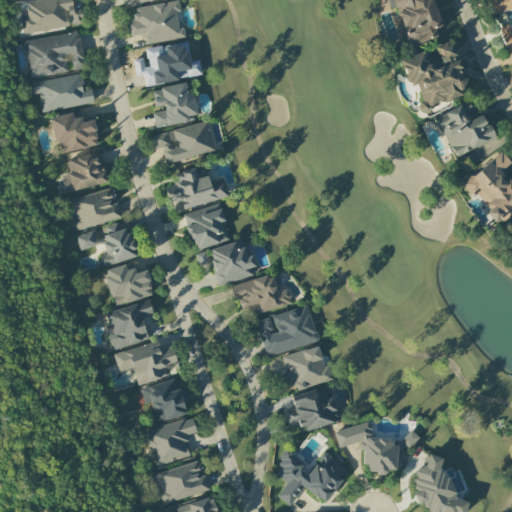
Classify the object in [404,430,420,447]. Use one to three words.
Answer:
gazebo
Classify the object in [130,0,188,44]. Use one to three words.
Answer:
house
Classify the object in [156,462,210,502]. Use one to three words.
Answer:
house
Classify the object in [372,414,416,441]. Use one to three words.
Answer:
swimming pool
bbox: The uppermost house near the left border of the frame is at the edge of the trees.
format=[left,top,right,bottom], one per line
[20,0,76,36]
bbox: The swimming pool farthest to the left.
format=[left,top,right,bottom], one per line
[16,45,31,76]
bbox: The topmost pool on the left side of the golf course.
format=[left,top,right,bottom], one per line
[183,6,198,30]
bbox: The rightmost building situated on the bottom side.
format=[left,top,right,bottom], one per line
[414,452,471,512]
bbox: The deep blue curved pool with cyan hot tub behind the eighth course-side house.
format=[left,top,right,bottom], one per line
[247,244,270,270]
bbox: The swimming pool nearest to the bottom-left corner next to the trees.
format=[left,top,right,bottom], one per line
[112,370,136,390]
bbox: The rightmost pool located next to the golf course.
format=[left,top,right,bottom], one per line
[466,198,495,224]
